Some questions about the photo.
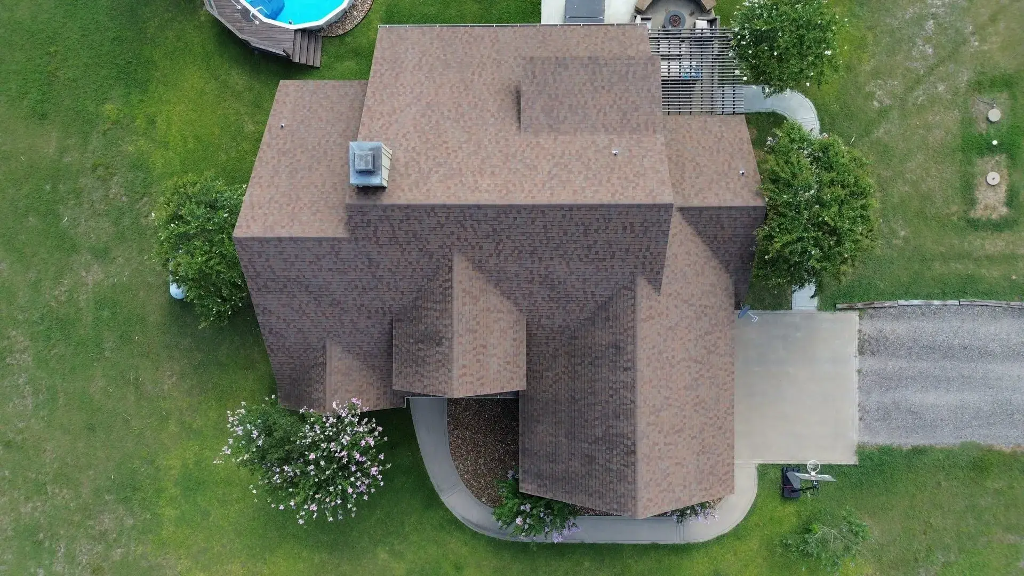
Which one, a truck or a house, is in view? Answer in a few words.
house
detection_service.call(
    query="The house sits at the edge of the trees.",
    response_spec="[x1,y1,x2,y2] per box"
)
[233,21,767,521]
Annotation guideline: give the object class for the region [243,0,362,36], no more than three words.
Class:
swimming pool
